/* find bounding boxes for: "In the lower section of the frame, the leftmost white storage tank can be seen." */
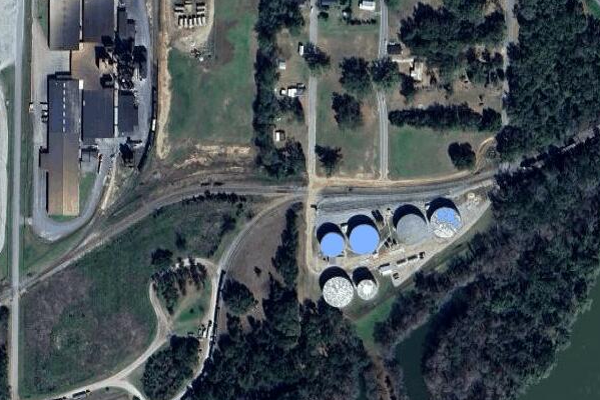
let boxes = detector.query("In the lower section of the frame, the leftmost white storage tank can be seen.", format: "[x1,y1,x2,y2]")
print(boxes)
[322,276,354,308]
